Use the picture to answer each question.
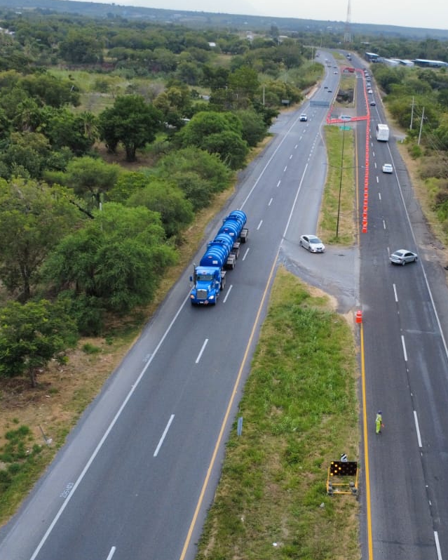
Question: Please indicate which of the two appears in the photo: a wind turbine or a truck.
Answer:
truck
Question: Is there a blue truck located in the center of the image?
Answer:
Yes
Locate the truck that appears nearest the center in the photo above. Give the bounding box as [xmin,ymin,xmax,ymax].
[193,208,254,301]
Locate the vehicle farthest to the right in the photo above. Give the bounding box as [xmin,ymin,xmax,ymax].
[391,250,422,266]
